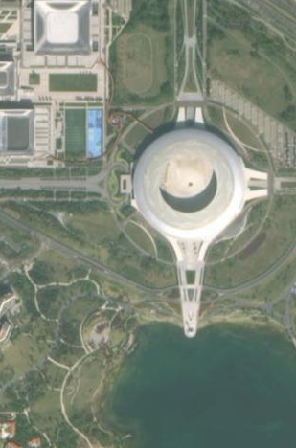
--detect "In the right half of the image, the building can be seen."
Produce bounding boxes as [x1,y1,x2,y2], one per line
[120,107,268,338]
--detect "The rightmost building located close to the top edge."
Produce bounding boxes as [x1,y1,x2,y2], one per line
[34,0,91,54]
